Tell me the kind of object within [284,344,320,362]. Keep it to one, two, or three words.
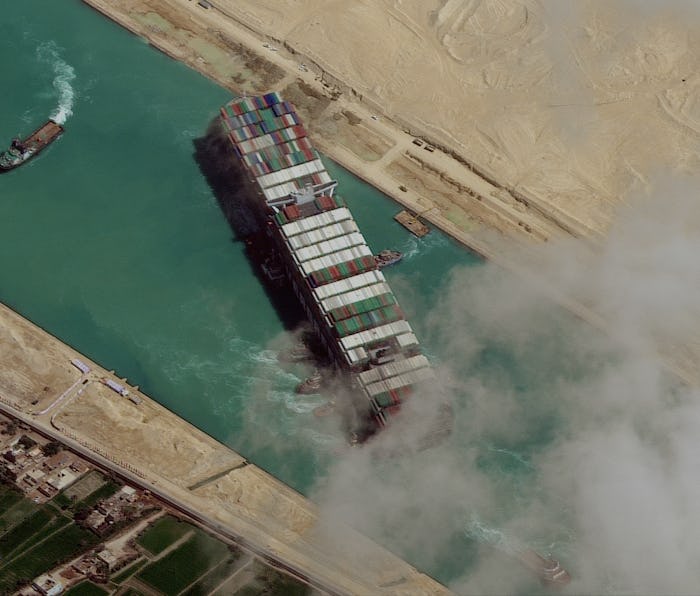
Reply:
boat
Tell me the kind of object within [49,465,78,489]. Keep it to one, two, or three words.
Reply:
house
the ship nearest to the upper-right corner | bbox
[394,207,429,236]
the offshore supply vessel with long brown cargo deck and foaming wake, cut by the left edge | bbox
[0,116,58,170]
